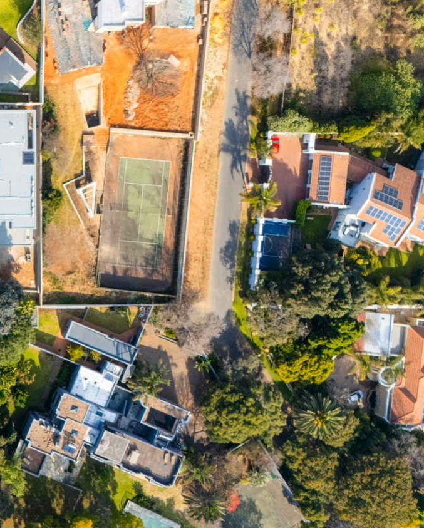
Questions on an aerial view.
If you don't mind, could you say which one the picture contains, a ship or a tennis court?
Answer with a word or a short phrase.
tennis court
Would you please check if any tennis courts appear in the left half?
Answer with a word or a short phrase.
Yes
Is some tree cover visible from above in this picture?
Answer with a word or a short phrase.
Yes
